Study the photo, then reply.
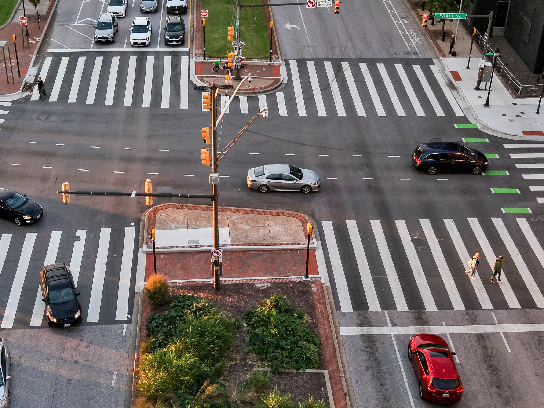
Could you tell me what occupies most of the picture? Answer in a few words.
paved ground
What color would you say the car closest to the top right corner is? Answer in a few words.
black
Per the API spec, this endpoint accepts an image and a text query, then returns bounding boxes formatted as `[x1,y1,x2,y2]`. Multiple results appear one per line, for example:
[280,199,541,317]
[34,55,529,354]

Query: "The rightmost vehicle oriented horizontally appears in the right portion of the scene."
[411,141,493,175]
